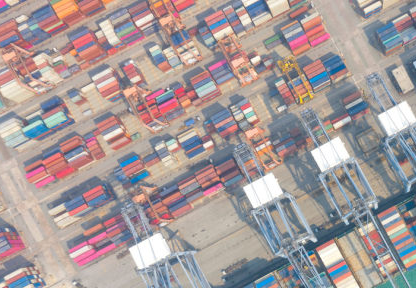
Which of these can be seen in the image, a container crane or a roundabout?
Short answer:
container crane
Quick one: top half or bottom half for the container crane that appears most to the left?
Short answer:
top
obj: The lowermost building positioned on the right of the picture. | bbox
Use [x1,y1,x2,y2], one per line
[392,66,414,94]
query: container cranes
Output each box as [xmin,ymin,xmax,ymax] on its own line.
[245,131,283,176]
[297,104,412,288]
[216,33,256,85]
[156,11,194,65]
[128,185,174,229]
[363,68,416,196]
[123,85,168,134]
[119,202,215,288]
[231,140,328,288]
[277,54,314,105]
[1,46,54,97]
